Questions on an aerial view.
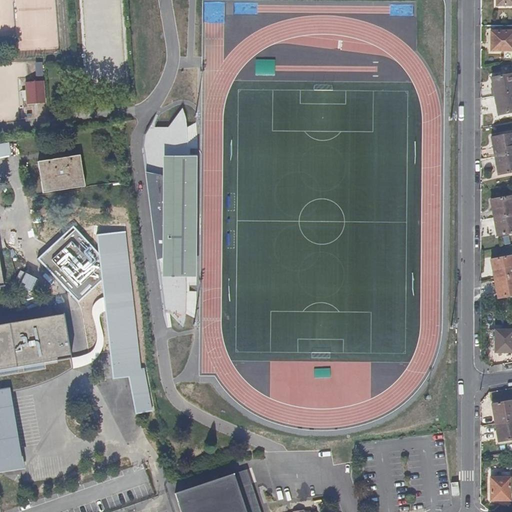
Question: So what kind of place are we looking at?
sports ground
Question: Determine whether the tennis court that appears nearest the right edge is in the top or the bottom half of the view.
top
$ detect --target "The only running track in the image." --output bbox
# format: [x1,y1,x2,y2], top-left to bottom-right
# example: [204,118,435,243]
[201,12,442,429]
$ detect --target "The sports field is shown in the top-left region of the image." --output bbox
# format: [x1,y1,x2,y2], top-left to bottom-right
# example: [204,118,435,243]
[80,0,126,70]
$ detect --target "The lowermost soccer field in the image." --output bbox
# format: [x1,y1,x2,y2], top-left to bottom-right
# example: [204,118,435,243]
[222,80,421,362]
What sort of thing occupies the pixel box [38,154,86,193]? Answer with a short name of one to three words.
house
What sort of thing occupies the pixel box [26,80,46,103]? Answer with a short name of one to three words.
shed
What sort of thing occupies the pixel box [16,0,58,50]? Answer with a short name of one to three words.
tennis court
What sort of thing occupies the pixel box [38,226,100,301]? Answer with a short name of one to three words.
building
